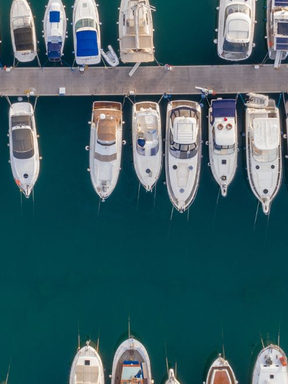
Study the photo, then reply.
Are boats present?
Yes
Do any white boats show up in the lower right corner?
Yes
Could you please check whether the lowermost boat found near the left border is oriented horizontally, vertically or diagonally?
vertically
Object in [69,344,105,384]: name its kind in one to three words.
boat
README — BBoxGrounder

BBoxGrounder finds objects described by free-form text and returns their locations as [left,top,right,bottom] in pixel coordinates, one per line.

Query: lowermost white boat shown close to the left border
[9,97,39,198]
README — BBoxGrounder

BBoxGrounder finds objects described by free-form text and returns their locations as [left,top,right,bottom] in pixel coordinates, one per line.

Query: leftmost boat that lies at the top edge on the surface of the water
[9,0,36,62]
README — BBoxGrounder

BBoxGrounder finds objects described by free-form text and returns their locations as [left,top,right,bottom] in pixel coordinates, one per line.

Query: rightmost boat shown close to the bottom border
[252,346,288,384]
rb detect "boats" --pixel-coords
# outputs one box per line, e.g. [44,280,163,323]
[89,102,123,199]
[206,357,235,384]
[244,100,283,216]
[133,102,163,193]
[209,100,239,198]
[242,92,268,108]
[43,0,67,60]
[217,0,256,61]
[72,0,101,65]
[9,97,39,198]
[111,337,151,384]
[9,0,36,62]
[69,344,105,384]
[252,346,288,384]
[163,100,201,212]
[264,0,288,59]
[117,0,154,62]
[164,366,180,384]
[101,43,118,62]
